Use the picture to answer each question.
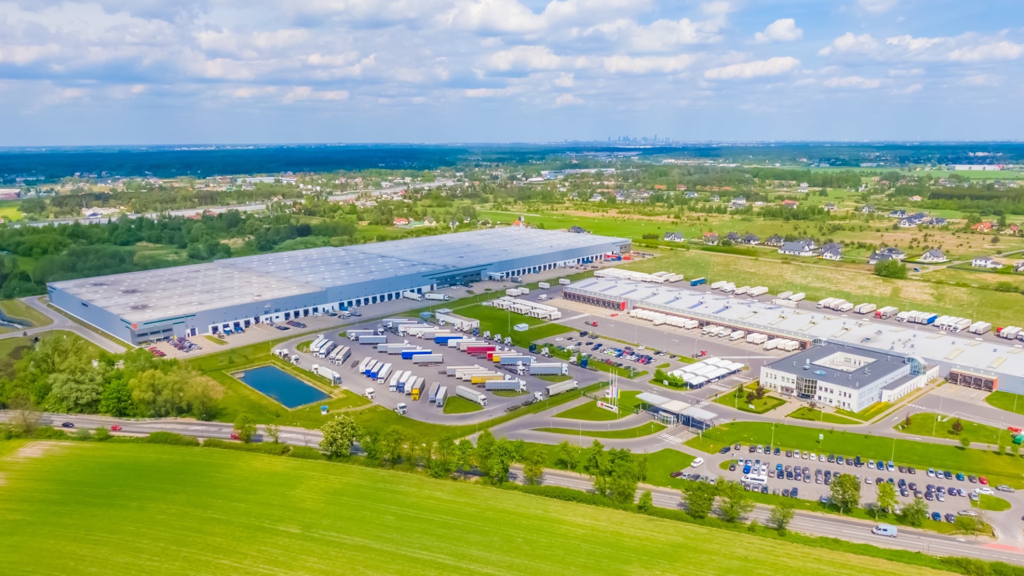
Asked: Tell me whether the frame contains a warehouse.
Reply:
Yes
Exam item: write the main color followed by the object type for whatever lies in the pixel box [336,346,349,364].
white vehicle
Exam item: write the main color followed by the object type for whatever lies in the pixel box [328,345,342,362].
white vehicle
